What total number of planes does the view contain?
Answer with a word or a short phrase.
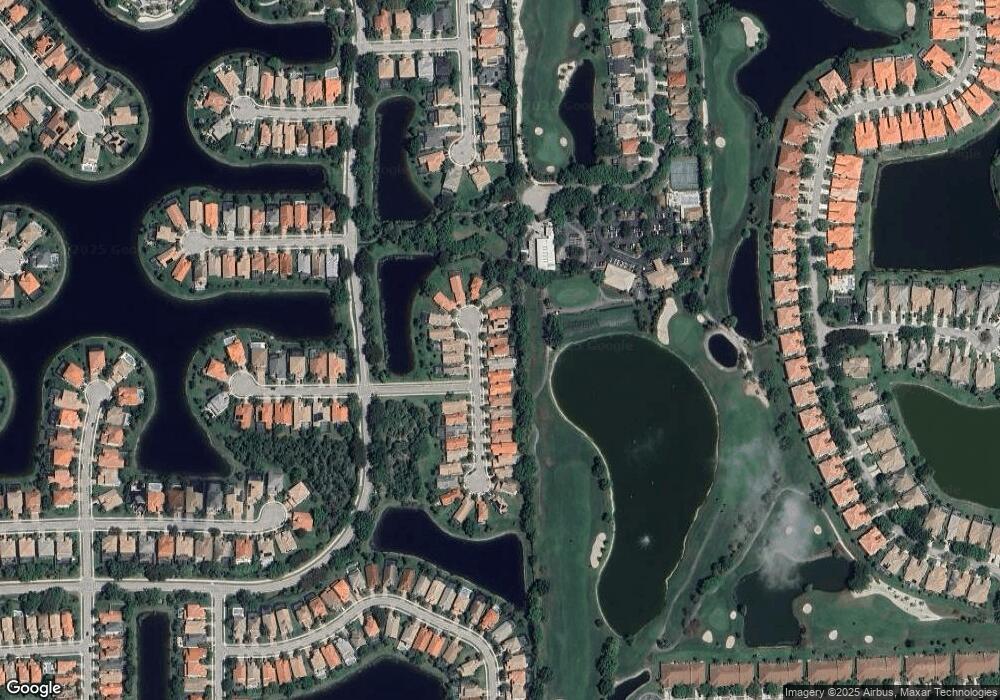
0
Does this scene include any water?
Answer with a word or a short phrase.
Yes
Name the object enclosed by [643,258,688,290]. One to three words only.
building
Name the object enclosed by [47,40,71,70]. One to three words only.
house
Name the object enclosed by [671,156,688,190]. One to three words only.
tennis court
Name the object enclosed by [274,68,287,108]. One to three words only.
house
